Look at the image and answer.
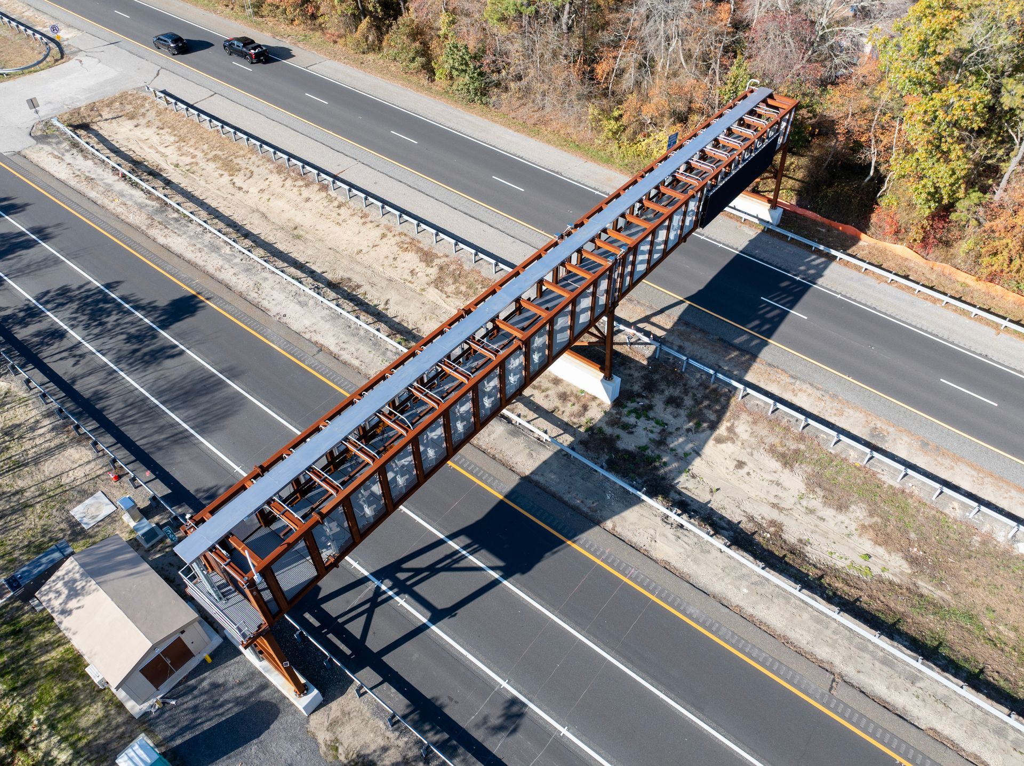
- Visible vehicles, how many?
2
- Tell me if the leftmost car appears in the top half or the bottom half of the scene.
top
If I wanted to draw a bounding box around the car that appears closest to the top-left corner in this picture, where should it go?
[152,29,190,54]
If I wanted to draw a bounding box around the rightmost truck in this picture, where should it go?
[220,34,270,63]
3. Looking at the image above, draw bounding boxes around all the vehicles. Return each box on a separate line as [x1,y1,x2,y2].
[152,29,190,54]
[220,34,270,63]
